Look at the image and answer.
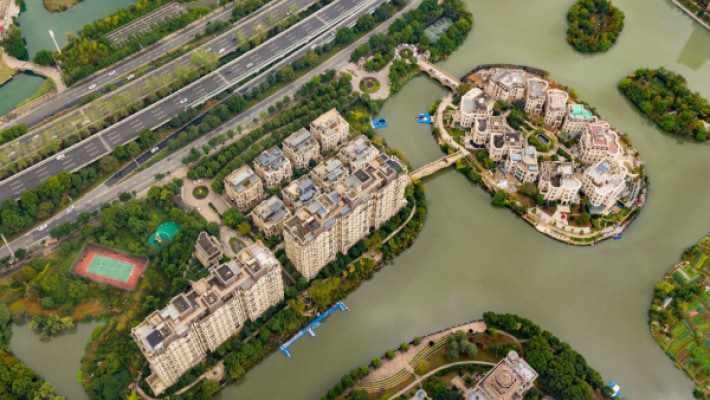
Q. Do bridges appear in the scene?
Yes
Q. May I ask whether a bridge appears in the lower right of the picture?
No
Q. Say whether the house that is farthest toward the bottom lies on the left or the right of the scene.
right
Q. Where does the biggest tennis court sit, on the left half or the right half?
left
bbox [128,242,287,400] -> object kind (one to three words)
building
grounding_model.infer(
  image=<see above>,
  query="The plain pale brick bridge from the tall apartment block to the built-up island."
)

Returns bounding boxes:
[406,147,469,181]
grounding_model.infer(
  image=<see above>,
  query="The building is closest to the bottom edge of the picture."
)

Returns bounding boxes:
[476,358,530,400]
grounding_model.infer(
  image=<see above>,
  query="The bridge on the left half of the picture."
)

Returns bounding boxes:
[0,51,66,94]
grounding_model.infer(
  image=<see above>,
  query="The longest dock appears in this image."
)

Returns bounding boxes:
[281,302,347,358]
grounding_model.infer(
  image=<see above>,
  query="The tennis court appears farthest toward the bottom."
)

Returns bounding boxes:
[71,241,147,289]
